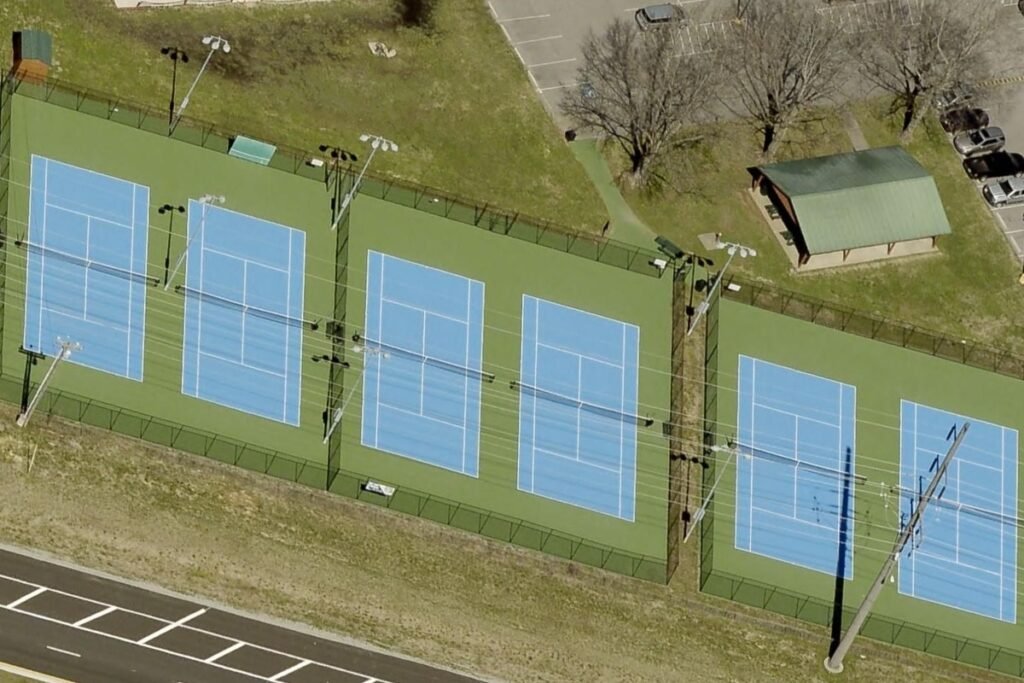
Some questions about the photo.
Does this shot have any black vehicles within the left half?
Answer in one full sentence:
No, no black vehicle appears within the left half.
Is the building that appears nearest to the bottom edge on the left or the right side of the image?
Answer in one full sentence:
It is on the right.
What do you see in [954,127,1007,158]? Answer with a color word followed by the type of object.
gray car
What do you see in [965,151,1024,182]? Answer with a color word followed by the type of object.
black truck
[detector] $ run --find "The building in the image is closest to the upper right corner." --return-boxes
[746,145,952,275]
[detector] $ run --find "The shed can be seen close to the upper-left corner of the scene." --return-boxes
[13,30,54,84]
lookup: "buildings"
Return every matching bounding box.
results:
[746,145,952,275]
[13,30,54,84]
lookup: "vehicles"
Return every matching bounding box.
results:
[937,104,991,136]
[965,151,1024,182]
[954,127,1007,158]
[982,178,1024,209]
[635,2,686,31]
